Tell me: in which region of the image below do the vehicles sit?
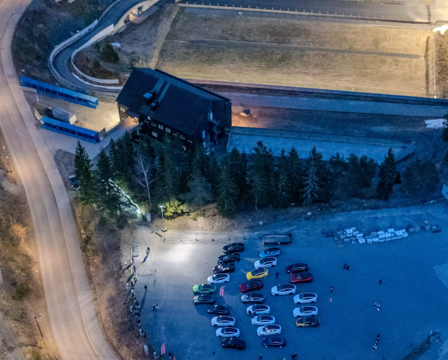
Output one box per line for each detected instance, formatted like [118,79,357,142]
[291,273,314,284]
[247,267,270,280]
[294,292,318,304]
[241,293,265,304]
[294,304,318,317]
[193,293,216,304]
[69,173,80,189]
[211,315,236,327]
[218,250,241,262]
[262,336,287,348]
[207,304,231,316]
[247,303,271,316]
[216,326,240,339]
[208,272,231,283]
[252,315,276,326]
[213,261,236,274]
[272,283,296,296]
[221,338,247,351]
[286,262,310,274]
[296,316,321,327]
[255,256,278,269]
[240,279,263,293]
[193,283,217,295]
[222,240,246,252]
[257,324,282,337]
[259,246,282,258]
